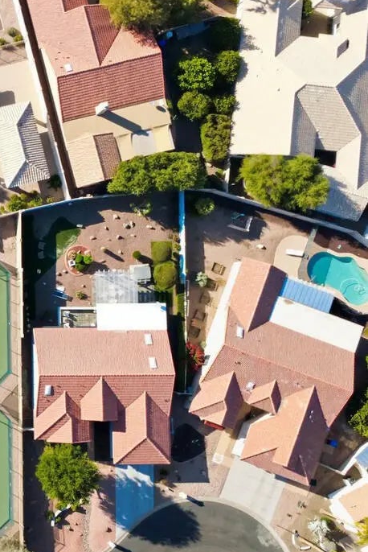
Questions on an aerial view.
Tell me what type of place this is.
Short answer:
residential area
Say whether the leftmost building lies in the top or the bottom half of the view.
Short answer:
top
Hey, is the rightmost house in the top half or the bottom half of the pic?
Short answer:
bottom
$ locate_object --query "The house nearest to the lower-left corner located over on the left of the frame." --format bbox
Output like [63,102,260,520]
[29,302,175,465]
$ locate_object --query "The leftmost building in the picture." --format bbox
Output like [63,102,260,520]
[0,100,50,189]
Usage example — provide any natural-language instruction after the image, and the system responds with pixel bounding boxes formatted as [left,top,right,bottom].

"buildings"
[29,302,175,465]
[223,0,368,226]
[24,0,174,188]
[317,434,368,523]
[125,264,149,280]
[182,258,363,486]
[0,100,50,189]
